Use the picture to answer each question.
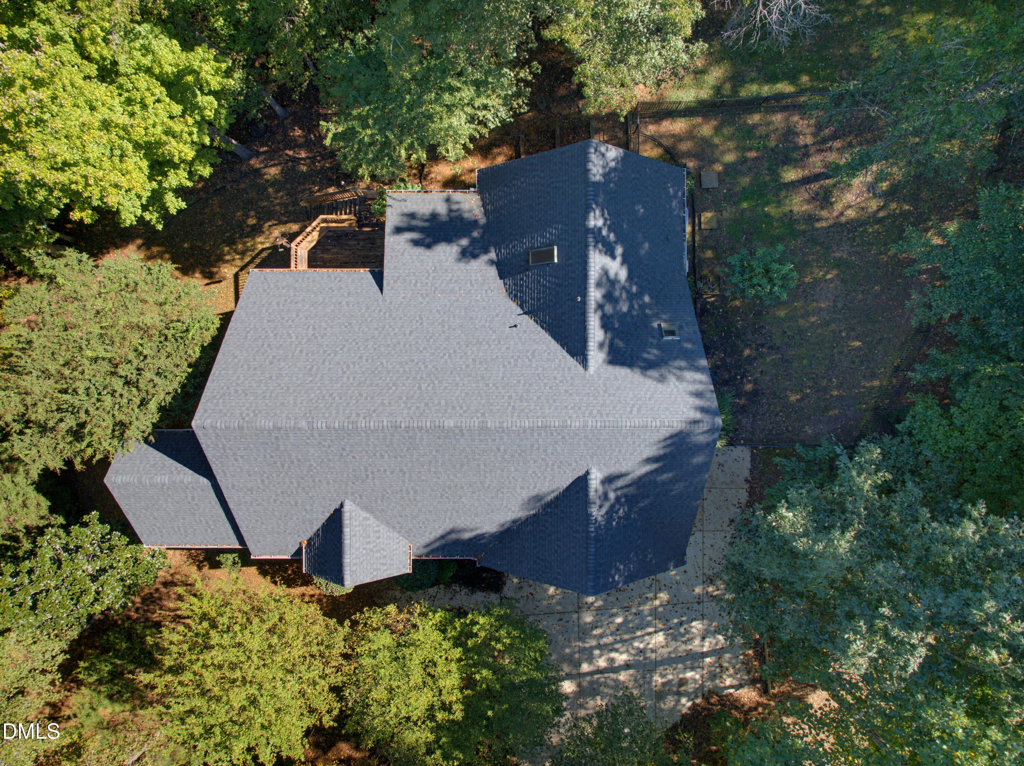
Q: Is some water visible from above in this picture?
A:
No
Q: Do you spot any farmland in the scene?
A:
No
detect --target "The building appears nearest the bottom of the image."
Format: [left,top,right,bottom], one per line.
[105,139,722,596]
